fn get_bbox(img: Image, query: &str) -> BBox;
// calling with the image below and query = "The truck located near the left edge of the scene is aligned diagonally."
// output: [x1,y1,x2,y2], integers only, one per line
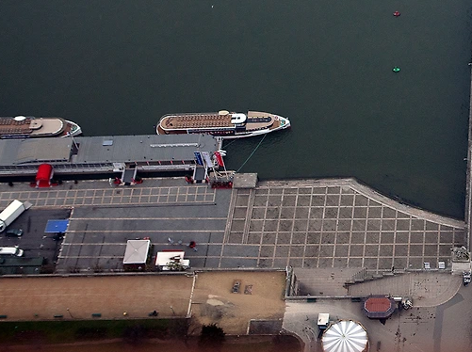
[0,192,26,233]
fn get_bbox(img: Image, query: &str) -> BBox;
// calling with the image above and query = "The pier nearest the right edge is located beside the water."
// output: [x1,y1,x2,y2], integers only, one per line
[232,173,258,190]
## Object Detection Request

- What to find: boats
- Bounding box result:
[155,107,292,141]
[0,111,84,139]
